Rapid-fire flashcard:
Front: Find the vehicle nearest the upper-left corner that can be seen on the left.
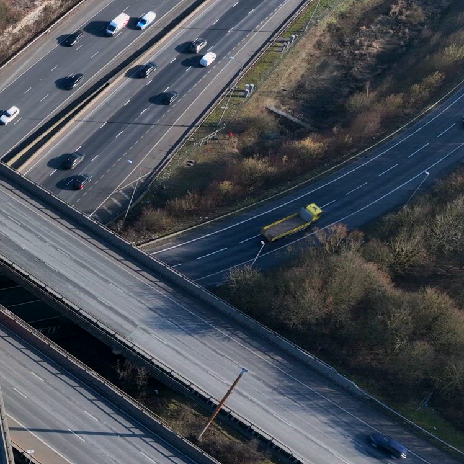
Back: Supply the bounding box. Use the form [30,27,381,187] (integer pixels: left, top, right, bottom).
[64,33,81,47]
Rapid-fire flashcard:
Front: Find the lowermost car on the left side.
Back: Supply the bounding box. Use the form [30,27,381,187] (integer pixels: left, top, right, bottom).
[69,173,91,192]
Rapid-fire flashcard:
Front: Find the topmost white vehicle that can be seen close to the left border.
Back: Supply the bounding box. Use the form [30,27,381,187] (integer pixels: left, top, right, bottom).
[0,107,19,124]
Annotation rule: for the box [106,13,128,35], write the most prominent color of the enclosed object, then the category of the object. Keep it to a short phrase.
white vehicle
